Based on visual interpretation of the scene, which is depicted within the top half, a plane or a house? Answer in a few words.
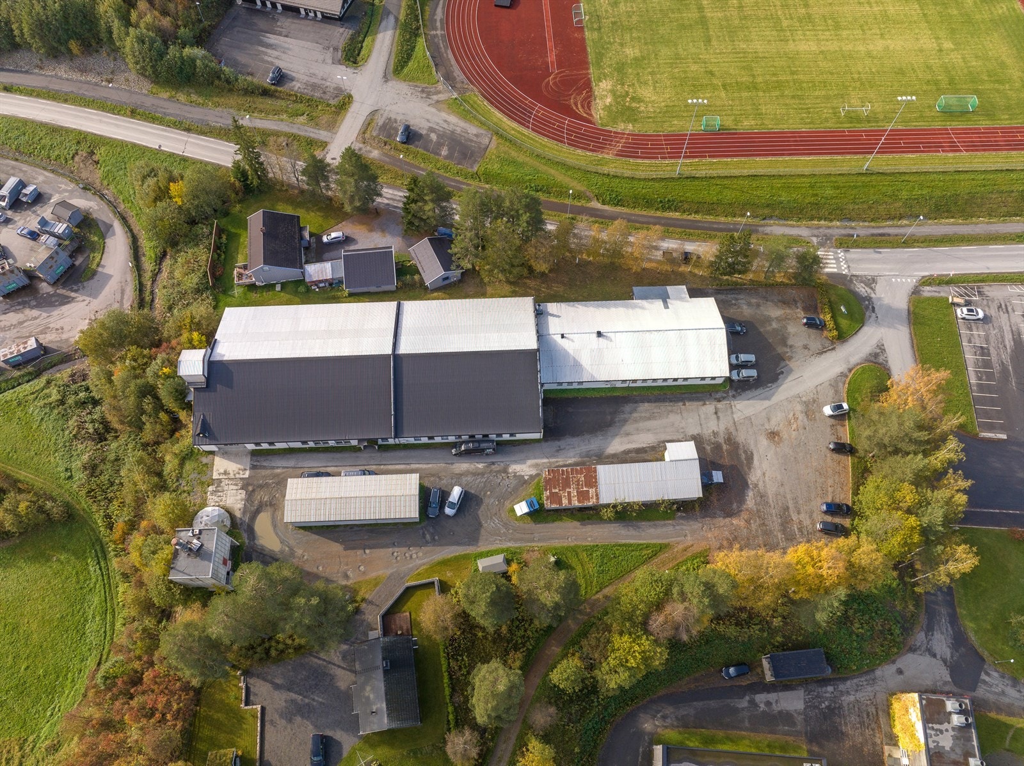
house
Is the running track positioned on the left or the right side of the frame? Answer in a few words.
right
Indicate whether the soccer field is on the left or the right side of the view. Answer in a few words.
right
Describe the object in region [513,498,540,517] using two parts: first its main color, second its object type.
white vehicle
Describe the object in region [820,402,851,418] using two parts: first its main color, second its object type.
white car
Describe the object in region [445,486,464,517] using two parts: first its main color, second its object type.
white car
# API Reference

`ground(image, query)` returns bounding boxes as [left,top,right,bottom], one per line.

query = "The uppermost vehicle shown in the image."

[268,66,283,85]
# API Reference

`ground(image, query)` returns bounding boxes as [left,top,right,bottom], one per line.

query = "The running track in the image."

[445,0,1024,160]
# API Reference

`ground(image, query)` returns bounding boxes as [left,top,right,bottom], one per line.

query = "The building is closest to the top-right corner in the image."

[537,284,730,391]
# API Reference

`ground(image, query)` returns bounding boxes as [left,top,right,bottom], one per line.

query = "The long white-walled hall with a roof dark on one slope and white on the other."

[176,298,544,457]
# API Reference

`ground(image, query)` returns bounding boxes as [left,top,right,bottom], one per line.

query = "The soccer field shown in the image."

[583,0,1024,133]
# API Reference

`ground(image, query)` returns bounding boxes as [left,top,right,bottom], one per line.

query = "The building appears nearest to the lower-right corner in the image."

[889,690,985,766]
